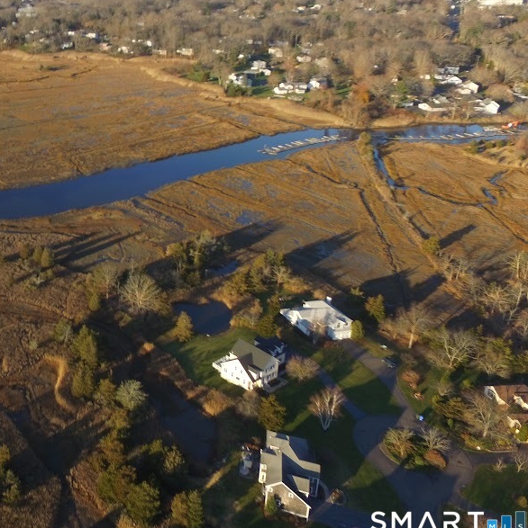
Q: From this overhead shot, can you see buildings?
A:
Yes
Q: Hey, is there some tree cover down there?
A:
Yes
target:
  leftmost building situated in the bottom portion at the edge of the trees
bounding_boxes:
[212,332,294,399]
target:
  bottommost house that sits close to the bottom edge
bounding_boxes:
[265,440,336,523]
